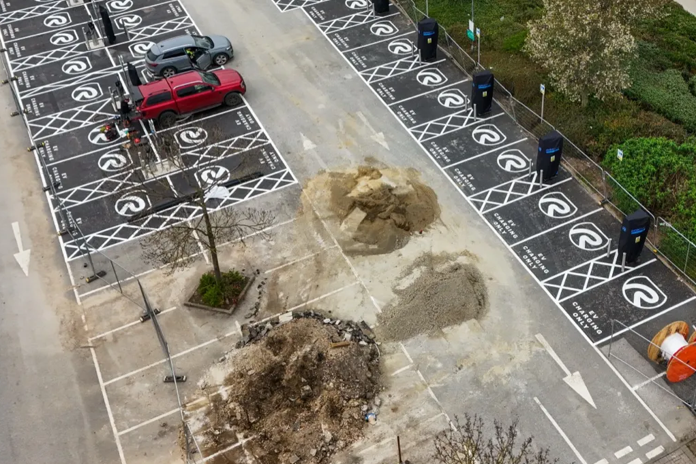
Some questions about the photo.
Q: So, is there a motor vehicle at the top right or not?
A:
No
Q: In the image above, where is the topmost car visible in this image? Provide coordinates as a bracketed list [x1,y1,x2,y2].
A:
[140,36,231,83]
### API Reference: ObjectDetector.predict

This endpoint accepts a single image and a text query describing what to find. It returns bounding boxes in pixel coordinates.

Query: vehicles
[140,36,231,83]
[117,68,247,127]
